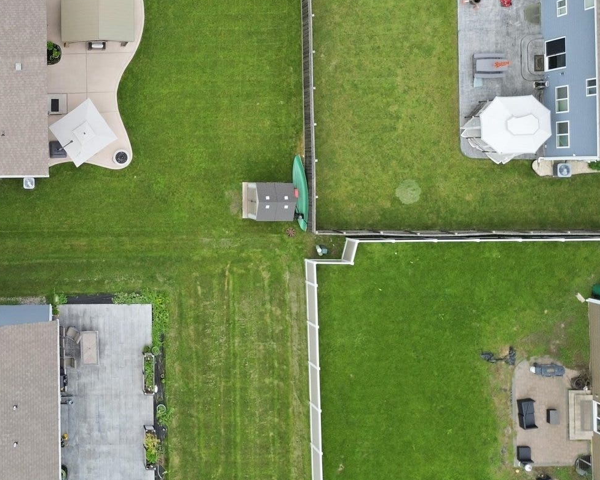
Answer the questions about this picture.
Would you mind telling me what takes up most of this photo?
grass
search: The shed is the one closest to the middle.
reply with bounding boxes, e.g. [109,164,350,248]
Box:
[242,183,297,220]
